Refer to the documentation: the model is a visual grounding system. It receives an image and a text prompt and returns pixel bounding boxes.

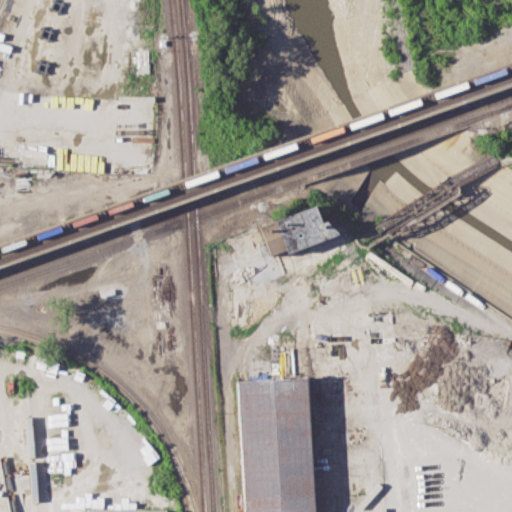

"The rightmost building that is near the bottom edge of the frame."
[236,378,315,512]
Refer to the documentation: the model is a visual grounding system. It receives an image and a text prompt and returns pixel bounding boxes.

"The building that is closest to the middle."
[260,206,340,256]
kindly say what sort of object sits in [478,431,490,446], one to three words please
vehicle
